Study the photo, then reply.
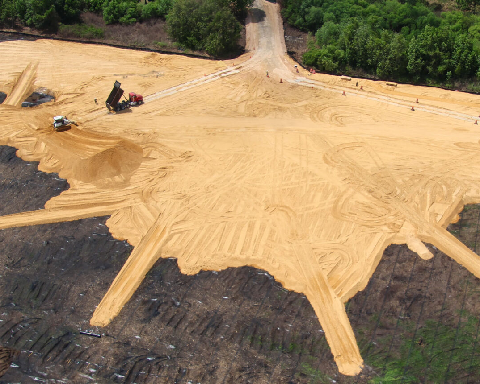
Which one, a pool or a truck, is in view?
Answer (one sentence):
Visible in the photo is a truck.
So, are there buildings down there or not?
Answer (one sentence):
No, the frame has no building in it.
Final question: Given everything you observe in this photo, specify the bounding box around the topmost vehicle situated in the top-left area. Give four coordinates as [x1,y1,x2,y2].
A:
[103,76,142,112]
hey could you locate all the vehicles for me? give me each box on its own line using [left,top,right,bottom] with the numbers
[103,76,142,112]
[51,114,75,131]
